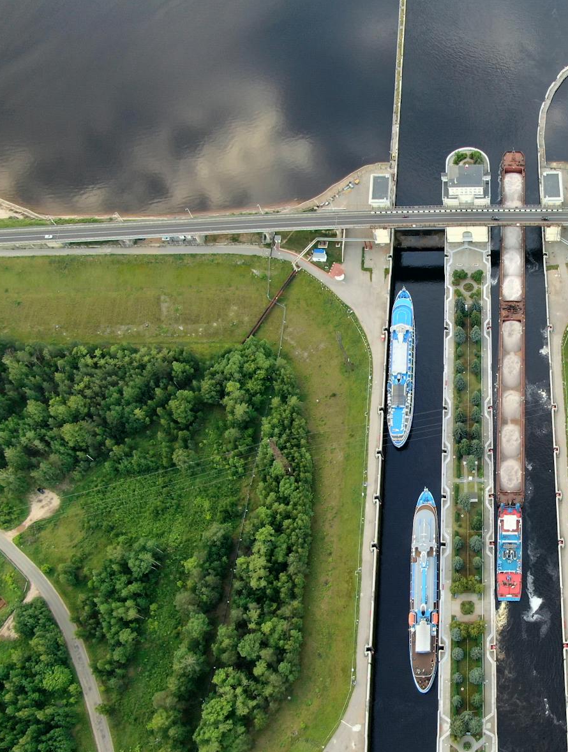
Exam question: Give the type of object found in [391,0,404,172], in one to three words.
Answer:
pier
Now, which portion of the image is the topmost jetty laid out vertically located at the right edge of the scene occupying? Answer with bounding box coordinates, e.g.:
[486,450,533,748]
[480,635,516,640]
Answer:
[539,63,568,173]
